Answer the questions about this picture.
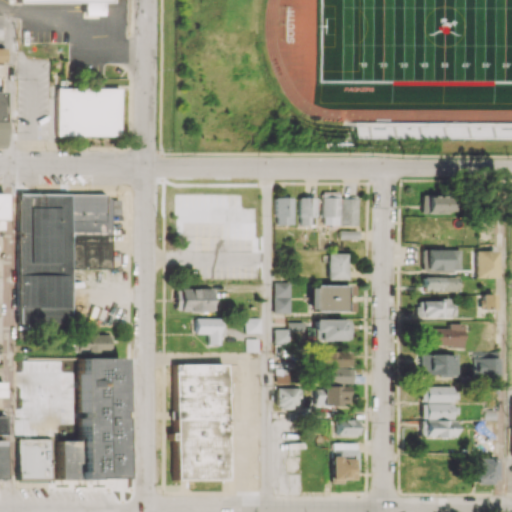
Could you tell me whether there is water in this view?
No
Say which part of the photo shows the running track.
top right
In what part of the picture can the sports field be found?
top right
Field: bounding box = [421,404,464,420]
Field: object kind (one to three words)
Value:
house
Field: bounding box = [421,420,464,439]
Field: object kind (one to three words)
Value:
house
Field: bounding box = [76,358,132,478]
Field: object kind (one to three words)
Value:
building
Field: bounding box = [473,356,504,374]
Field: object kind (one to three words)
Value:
building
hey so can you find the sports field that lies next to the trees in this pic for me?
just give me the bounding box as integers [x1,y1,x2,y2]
[317,0,512,110]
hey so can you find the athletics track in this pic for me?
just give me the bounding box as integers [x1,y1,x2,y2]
[266,0,512,121]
